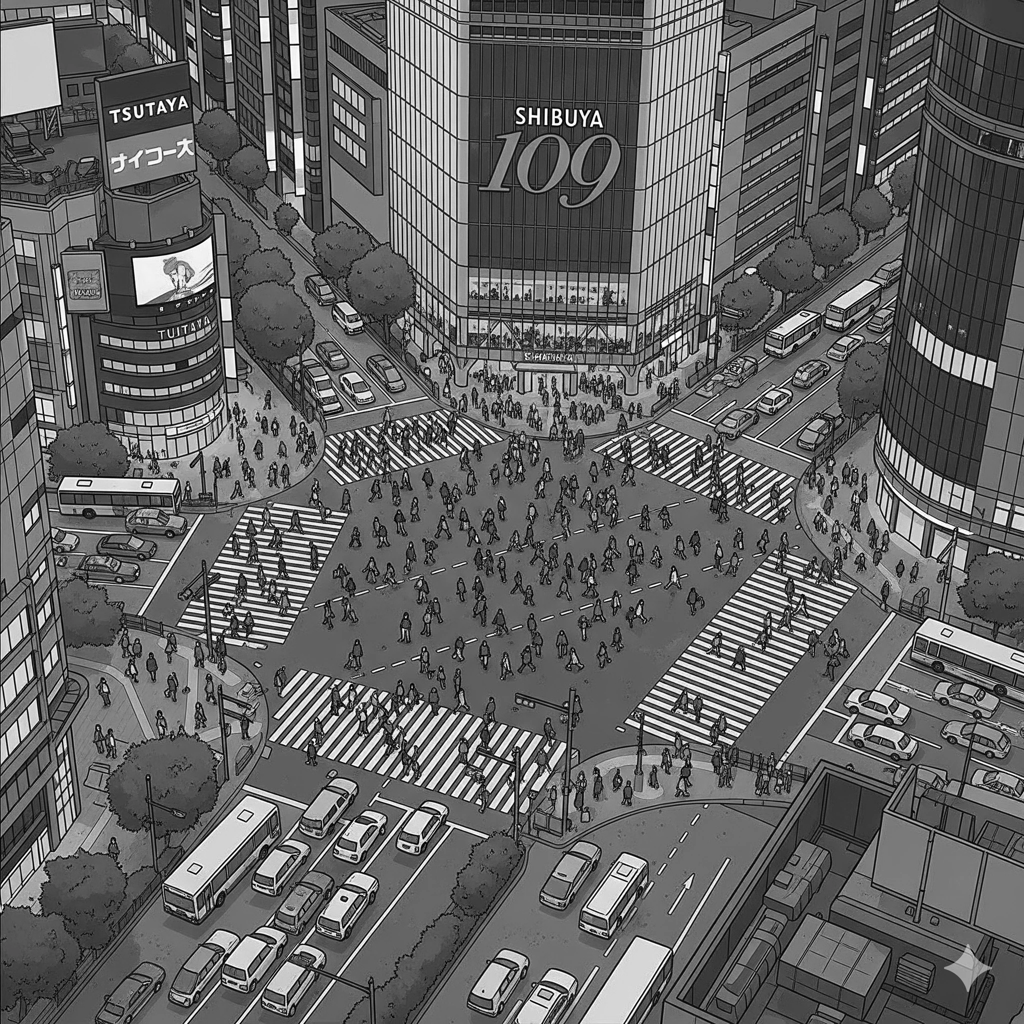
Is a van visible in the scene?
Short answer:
Yes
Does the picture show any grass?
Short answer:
No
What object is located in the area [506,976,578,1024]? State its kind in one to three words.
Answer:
car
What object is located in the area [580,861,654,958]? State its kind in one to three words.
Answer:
vehicle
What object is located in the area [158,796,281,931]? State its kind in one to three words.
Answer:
bus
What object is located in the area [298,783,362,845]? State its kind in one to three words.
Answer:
van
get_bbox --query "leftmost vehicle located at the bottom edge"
[93,969,169,1024]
